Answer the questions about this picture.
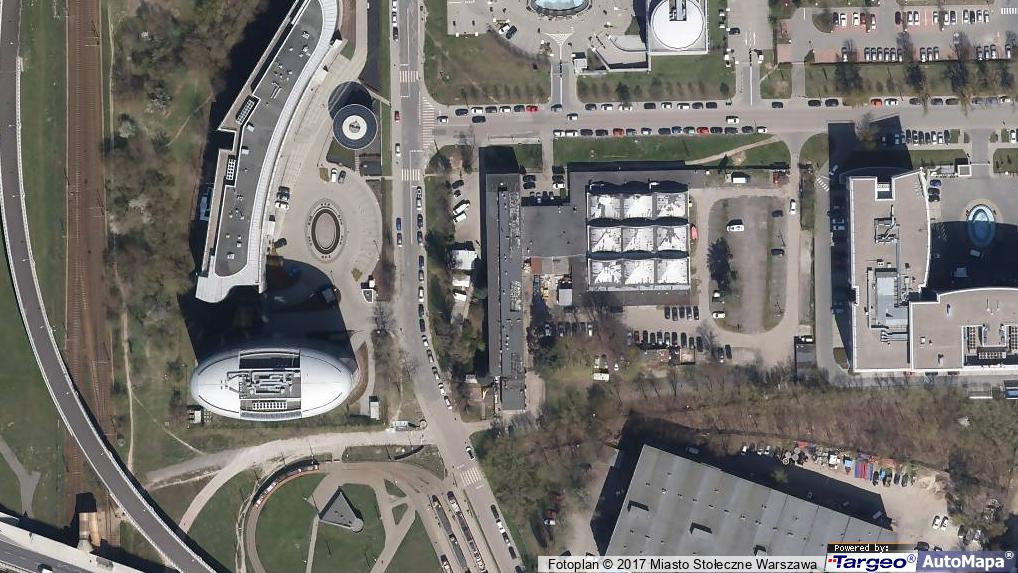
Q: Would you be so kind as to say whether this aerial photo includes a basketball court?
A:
No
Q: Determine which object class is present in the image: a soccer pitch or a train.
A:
train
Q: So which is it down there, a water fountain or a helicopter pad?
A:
water fountain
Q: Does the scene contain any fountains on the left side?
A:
No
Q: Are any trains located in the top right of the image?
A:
No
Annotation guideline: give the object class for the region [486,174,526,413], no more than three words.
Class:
building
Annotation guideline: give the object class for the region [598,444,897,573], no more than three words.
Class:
warehouse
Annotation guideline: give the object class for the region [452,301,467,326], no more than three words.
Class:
building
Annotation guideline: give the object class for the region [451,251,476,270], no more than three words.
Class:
shed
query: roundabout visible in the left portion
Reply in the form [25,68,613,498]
[305,201,346,260]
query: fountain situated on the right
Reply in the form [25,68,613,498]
[960,196,1002,252]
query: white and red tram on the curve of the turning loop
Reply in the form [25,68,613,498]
[255,464,317,504]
